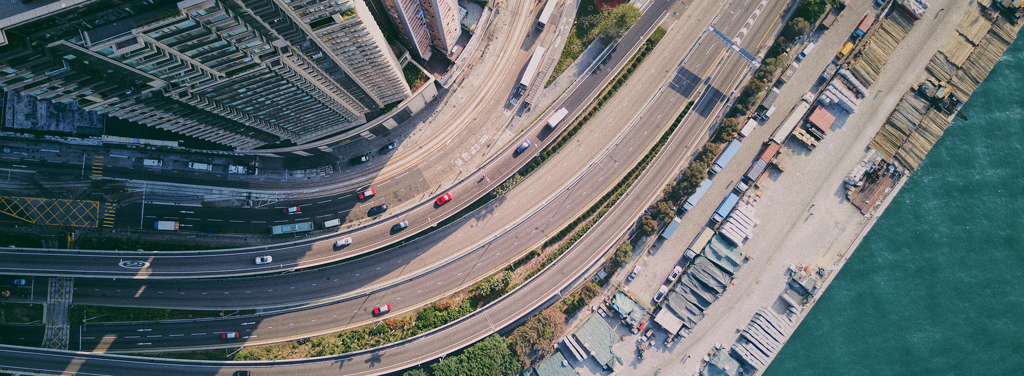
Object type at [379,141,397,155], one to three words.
car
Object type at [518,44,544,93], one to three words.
bus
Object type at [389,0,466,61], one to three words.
building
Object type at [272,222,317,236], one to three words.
vehicle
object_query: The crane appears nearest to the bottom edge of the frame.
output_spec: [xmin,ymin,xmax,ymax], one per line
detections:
[925,82,967,121]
